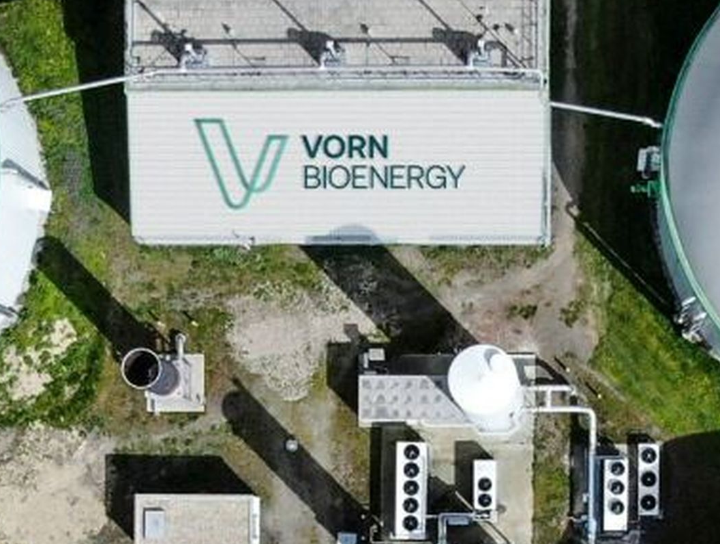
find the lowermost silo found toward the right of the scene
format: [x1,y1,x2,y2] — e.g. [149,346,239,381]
[446,343,531,443]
